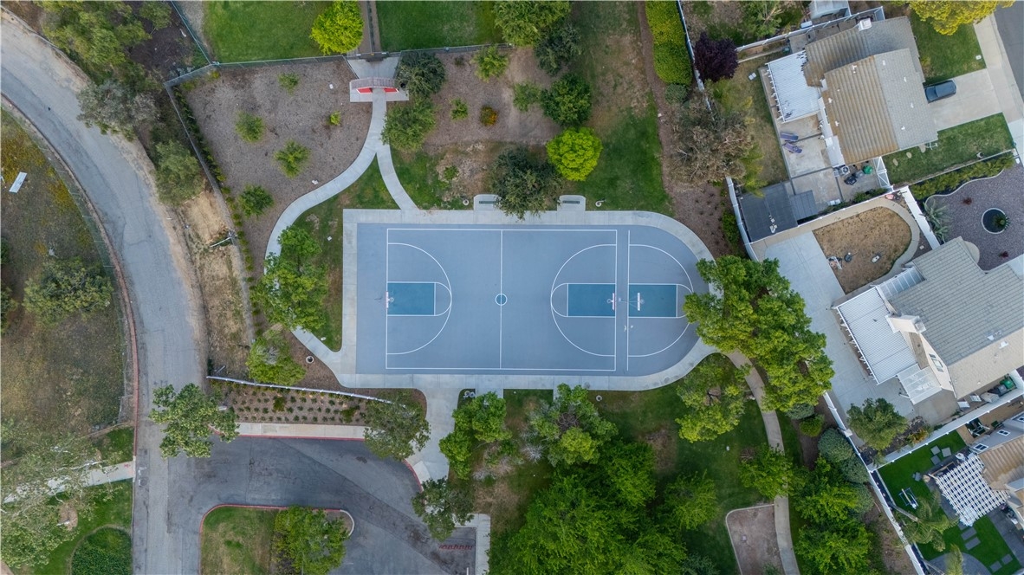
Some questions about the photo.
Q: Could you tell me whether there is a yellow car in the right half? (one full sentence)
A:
No, in the right half there is no yellow car.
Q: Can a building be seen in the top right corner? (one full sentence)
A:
Yes, looking in the top right corner, one can make out a building.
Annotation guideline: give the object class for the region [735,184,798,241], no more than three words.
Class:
shed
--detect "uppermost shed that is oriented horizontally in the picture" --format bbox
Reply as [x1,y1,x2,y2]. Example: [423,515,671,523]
[795,0,848,29]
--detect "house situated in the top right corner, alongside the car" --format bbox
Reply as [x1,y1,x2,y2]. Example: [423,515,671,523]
[805,16,938,166]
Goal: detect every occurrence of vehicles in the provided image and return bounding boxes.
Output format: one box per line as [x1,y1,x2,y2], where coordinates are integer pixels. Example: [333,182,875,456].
[923,79,959,103]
